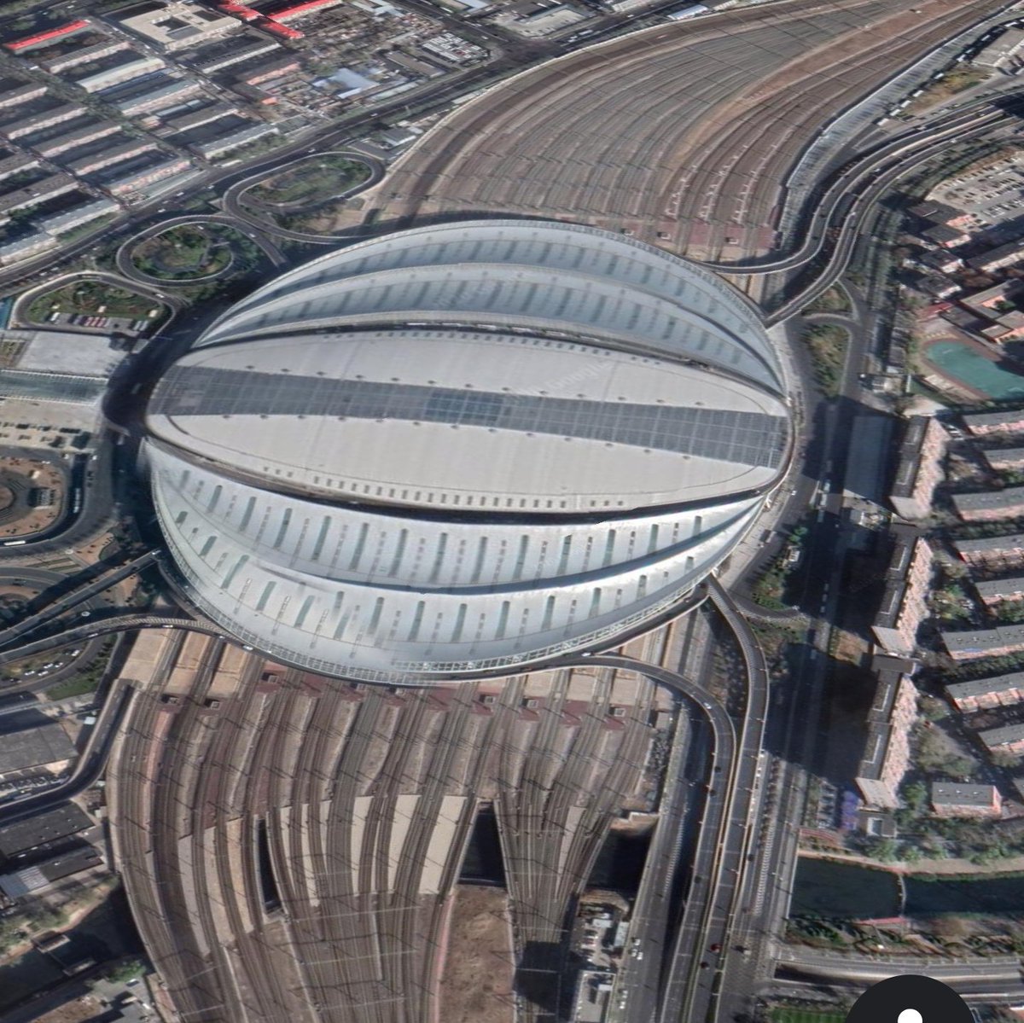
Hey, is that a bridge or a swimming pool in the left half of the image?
bridge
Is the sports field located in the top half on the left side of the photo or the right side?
right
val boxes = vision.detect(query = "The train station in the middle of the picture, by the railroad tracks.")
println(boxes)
[145,218,793,686]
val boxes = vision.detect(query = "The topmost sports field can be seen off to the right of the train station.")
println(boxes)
[916,333,1024,406]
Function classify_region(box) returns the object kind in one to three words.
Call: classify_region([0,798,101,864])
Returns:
building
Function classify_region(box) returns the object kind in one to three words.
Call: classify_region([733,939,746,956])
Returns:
vehicle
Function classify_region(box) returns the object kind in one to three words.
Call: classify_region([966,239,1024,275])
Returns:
building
